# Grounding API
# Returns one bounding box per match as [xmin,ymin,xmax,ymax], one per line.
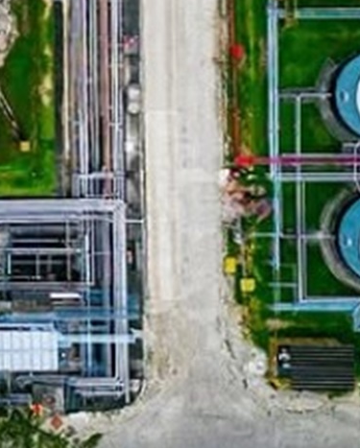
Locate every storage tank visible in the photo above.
[320,39,360,152]
[321,183,360,296]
